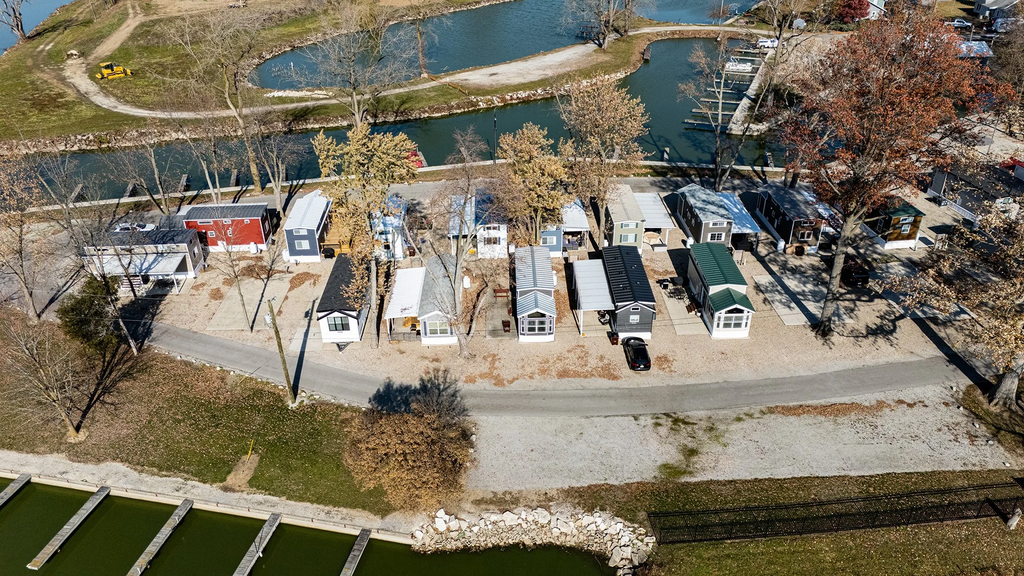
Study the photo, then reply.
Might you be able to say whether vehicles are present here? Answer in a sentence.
Yes, looking at the shot, I can spot a vehicle.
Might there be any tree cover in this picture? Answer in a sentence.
Yes, there is tree cover in the image.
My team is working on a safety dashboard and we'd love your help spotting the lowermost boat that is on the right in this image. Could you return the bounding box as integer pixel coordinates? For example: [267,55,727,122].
[725,58,754,72]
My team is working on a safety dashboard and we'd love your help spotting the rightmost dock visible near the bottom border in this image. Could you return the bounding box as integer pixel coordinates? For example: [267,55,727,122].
[337,535,372,576]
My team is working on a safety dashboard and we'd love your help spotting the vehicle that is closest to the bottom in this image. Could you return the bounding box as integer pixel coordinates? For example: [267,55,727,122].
[625,336,652,368]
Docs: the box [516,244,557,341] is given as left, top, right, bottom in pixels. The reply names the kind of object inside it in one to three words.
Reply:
house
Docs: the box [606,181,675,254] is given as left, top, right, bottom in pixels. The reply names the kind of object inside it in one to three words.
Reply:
house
